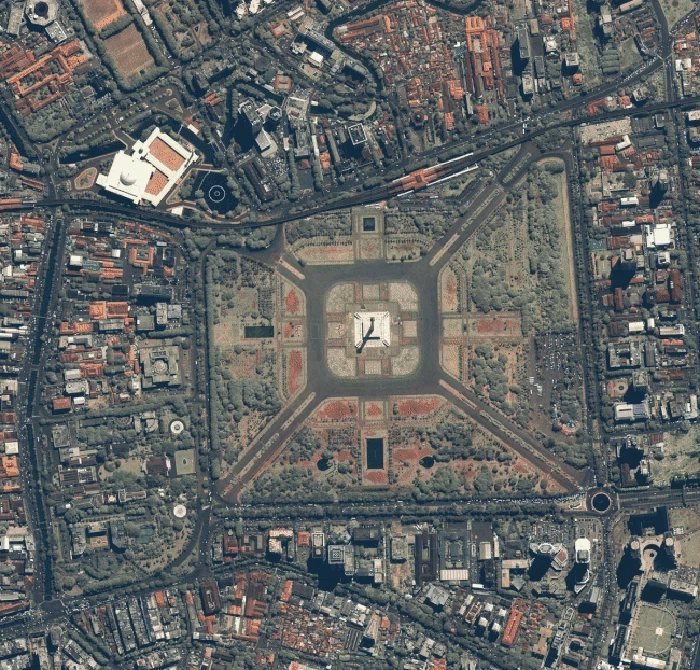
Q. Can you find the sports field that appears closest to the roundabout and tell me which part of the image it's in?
bottom right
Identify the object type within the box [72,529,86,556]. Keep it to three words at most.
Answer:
building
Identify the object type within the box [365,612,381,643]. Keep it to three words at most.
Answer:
building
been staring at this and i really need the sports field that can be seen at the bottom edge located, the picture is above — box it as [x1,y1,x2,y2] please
[628,602,676,654]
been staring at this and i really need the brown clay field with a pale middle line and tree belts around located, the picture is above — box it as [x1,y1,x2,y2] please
[103,22,154,77]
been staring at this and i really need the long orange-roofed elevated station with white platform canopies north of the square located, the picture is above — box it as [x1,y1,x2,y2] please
[381,152,481,200]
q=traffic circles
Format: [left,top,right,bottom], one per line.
[582,483,619,520]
